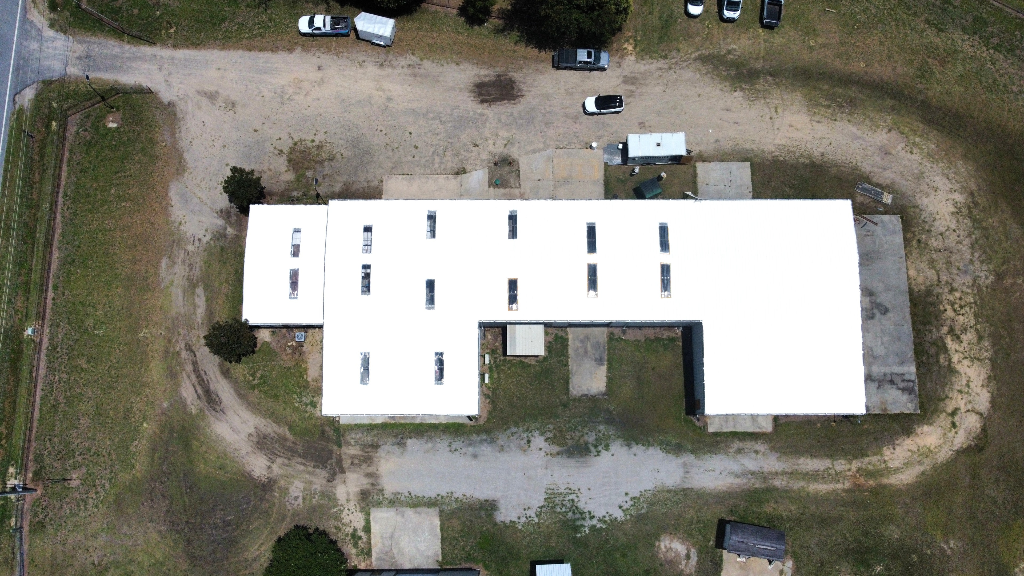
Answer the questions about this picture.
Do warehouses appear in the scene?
Yes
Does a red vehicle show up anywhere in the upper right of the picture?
No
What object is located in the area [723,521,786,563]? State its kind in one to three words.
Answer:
building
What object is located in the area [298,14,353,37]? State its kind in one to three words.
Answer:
truck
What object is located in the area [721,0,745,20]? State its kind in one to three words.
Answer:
vehicle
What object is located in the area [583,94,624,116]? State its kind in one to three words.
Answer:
car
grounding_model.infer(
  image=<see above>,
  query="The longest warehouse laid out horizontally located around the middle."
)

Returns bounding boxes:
[242,199,867,424]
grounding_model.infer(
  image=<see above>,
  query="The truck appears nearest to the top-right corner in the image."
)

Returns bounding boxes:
[761,0,783,27]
